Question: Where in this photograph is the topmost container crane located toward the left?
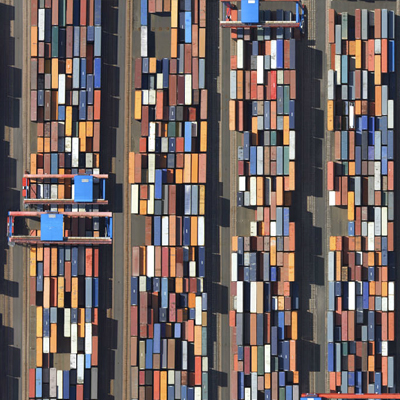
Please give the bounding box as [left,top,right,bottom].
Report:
[24,171,108,212]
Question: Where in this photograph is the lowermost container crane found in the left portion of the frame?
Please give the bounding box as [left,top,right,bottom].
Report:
[9,209,113,254]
